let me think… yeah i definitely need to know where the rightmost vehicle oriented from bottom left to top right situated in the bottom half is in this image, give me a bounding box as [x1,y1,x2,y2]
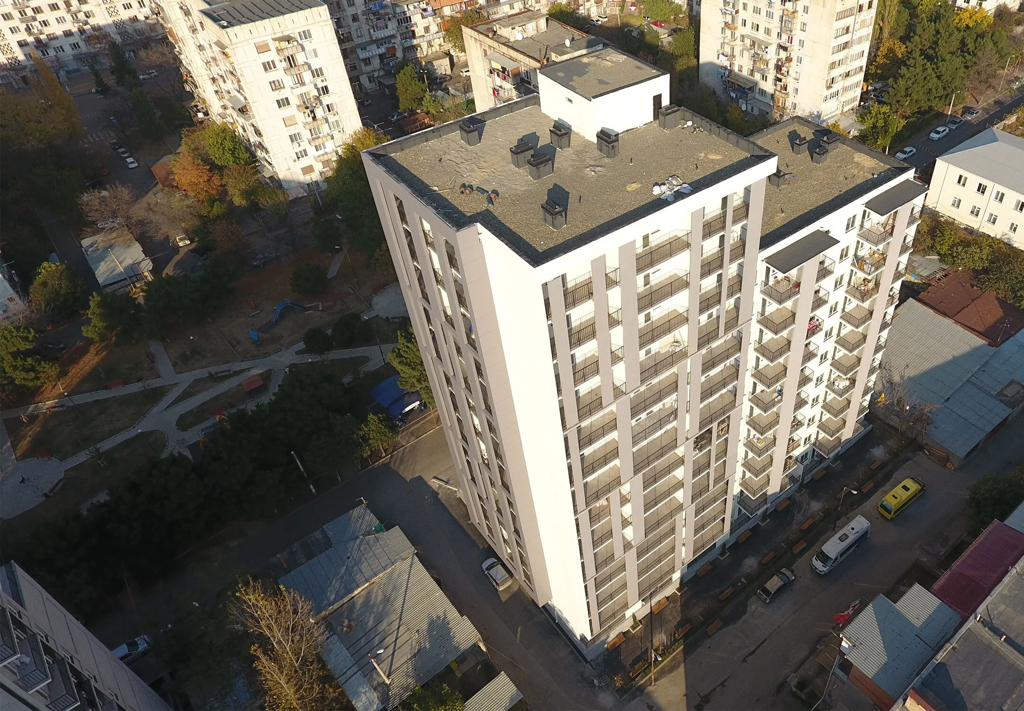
[872,468,931,527]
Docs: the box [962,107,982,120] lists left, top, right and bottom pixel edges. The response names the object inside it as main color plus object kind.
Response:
gray vehicle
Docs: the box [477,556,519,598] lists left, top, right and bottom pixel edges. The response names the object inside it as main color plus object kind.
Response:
gray car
